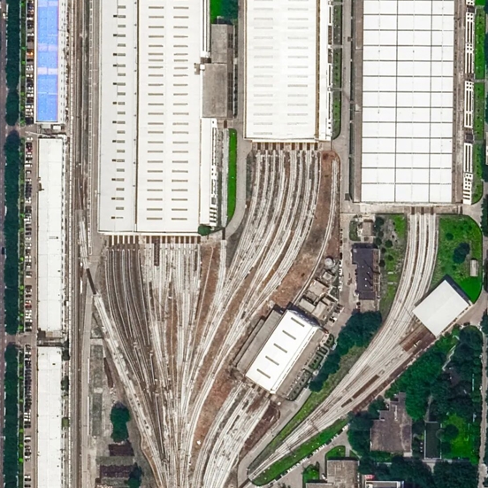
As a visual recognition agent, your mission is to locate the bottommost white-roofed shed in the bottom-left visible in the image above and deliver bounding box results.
[37,346,65,488]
